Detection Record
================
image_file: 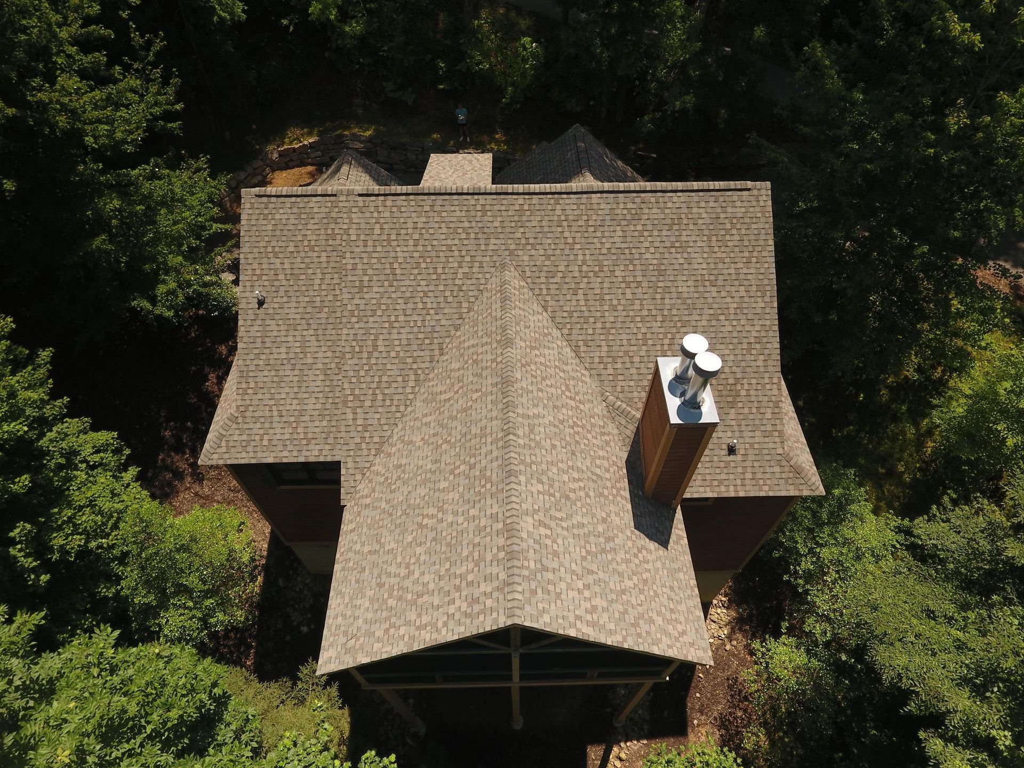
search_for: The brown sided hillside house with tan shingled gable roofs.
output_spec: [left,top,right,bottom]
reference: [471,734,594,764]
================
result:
[197,125,827,736]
